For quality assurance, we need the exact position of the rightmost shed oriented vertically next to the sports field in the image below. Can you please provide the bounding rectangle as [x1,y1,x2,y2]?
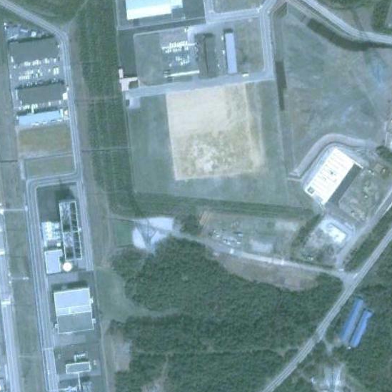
[226,34,238,74]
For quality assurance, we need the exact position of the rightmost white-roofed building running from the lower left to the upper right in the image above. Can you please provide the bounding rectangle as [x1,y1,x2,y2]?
[305,147,355,204]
